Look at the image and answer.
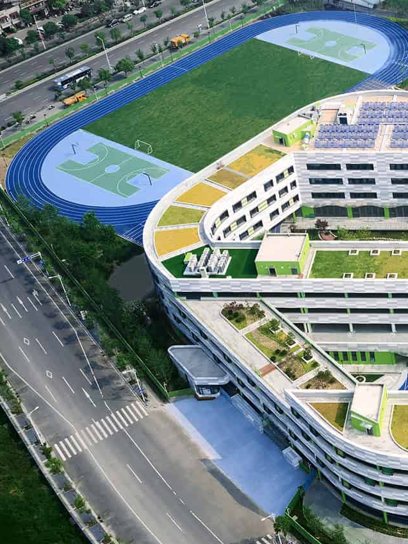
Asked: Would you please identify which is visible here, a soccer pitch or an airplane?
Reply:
soccer pitch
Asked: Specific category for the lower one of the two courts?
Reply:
basketball court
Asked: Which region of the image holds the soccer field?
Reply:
top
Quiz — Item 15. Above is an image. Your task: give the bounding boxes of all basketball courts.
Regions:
[55,142,170,199]
[284,26,378,63]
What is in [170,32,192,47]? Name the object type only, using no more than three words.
vehicle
